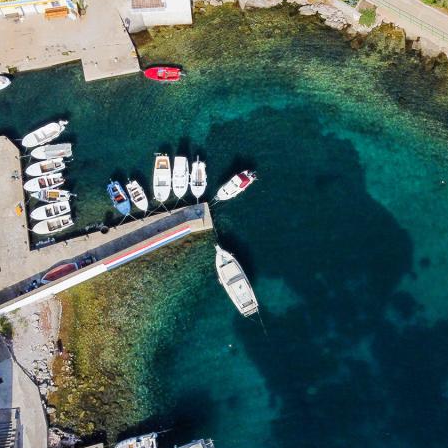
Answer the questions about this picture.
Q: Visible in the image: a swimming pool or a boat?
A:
boat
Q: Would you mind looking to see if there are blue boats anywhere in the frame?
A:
Yes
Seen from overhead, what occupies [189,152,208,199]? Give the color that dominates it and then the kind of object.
white boat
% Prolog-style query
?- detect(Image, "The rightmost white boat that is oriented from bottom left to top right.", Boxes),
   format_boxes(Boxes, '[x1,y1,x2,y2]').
[215,169,254,200]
